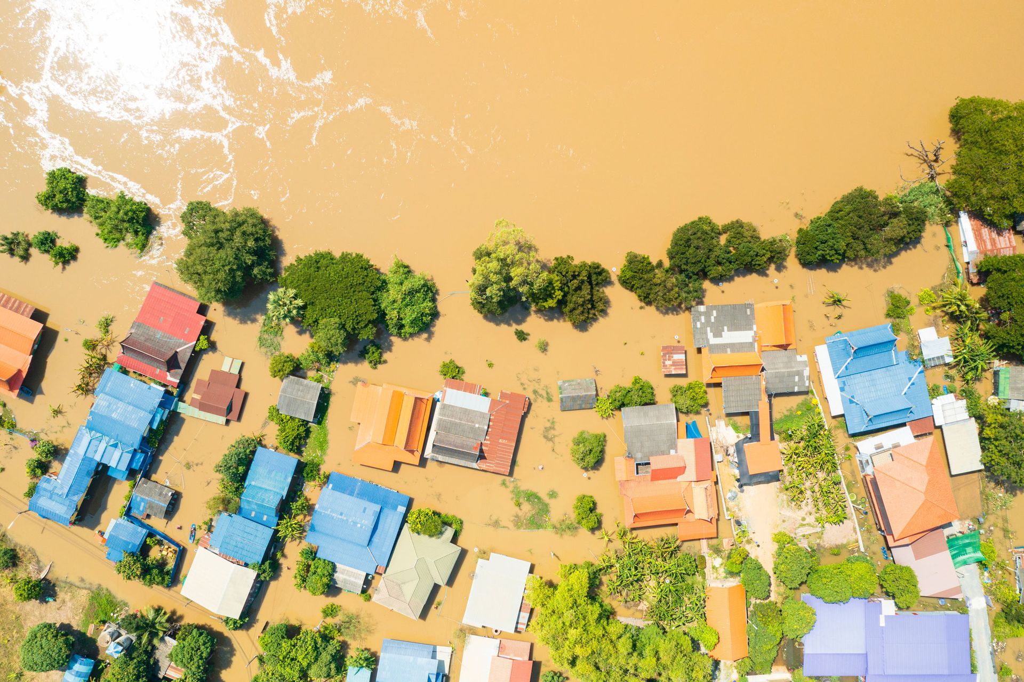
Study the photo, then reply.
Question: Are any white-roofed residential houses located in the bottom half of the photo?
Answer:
Yes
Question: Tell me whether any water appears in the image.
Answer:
Yes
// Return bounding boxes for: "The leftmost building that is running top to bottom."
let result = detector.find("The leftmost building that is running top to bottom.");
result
[0,294,46,398]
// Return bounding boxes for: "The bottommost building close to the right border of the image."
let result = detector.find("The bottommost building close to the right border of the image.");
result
[798,592,977,682]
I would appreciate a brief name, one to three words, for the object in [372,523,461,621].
house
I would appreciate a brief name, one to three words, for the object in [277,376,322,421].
shed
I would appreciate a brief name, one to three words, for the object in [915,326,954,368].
shed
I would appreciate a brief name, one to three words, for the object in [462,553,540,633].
house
